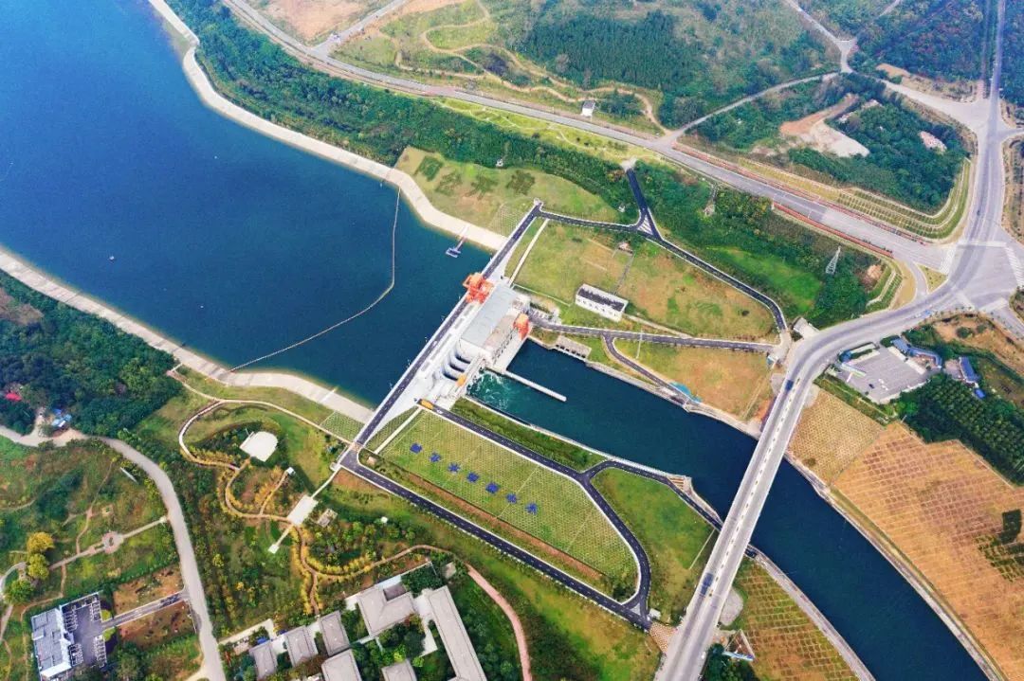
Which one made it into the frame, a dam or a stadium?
dam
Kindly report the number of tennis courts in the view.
0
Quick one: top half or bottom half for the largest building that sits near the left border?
bottom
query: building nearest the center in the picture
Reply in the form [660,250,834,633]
[458,280,540,373]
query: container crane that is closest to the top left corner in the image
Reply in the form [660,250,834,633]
[457,271,493,307]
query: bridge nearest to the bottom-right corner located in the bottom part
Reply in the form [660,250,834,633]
[654,299,934,681]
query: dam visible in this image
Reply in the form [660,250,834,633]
[362,233,526,430]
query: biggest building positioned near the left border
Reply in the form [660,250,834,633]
[30,608,72,676]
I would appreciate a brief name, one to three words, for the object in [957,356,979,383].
building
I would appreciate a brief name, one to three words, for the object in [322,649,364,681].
building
